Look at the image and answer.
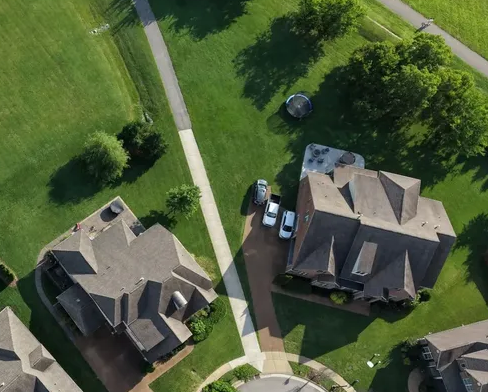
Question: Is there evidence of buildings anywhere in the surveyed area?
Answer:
Yes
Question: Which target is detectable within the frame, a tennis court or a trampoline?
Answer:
trampoline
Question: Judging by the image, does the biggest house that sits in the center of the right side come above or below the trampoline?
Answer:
below it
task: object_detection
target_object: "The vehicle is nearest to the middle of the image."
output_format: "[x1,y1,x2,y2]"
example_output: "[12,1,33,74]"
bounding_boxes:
[251,178,267,207]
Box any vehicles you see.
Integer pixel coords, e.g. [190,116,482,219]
[251,178,267,207]
[277,209,295,241]
[261,191,283,229]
